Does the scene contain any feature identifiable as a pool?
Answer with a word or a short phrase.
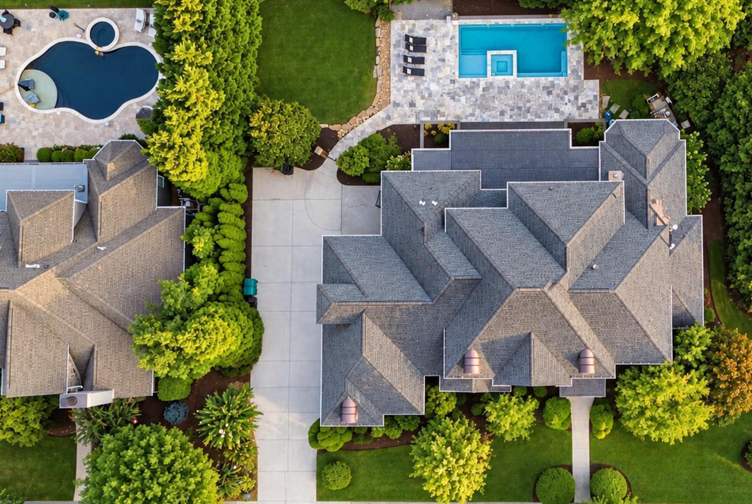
Yes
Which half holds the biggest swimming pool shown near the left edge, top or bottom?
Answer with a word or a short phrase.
top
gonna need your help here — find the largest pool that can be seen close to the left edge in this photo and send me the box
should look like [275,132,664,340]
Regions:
[14,35,161,124]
